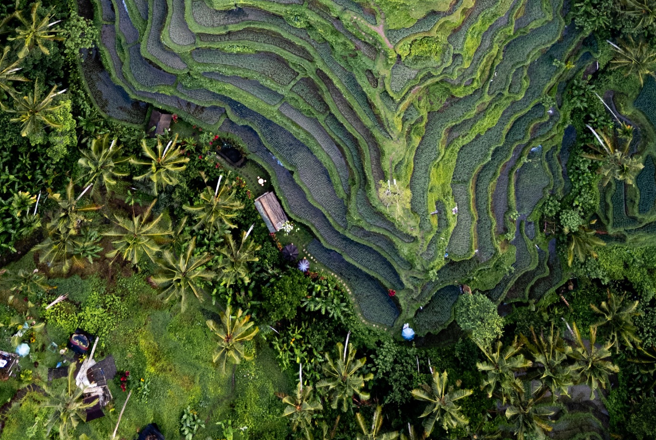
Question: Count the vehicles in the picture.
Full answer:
There are no vehicles in this view.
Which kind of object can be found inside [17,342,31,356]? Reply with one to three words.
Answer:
umbrella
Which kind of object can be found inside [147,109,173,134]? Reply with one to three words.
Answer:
shed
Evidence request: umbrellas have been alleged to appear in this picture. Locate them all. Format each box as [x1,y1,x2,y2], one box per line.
[401,326,414,339]
[297,259,309,270]
[17,342,31,356]
[283,243,298,260]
